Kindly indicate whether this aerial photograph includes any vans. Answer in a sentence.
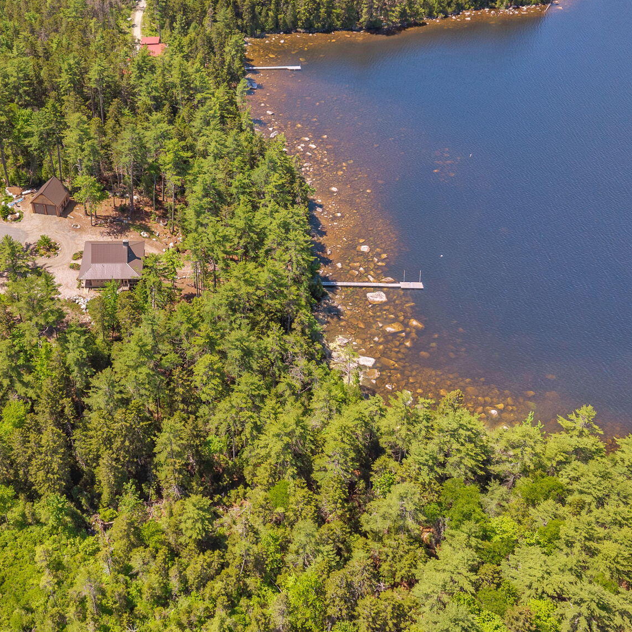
No, the frame has no van in it.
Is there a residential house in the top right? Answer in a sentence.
No, there is no residential house in the top right.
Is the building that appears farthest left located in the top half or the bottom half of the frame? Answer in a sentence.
You can find the building that appears farthest left in the top half.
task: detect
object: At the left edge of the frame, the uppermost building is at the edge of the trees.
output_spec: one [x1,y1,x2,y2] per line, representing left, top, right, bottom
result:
[29,174,75,217]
